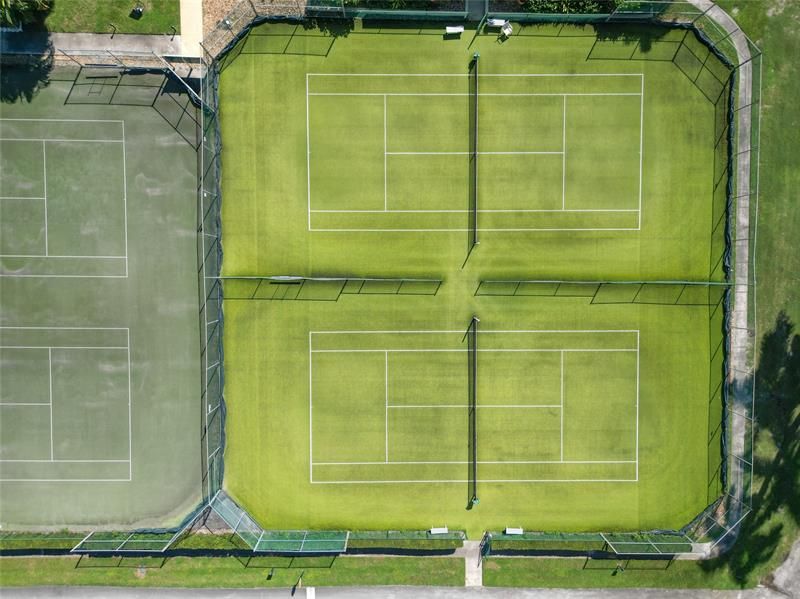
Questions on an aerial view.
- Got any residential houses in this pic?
No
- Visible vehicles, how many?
none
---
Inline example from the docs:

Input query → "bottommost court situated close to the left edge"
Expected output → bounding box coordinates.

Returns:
[0,302,220,530]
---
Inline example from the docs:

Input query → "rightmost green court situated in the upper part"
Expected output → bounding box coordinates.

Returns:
[215,19,730,282]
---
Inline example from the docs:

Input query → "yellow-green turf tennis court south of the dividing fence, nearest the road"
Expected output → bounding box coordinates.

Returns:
[218,282,727,541]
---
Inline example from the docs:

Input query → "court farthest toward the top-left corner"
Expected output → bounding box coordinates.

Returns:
[0,68,217,302]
